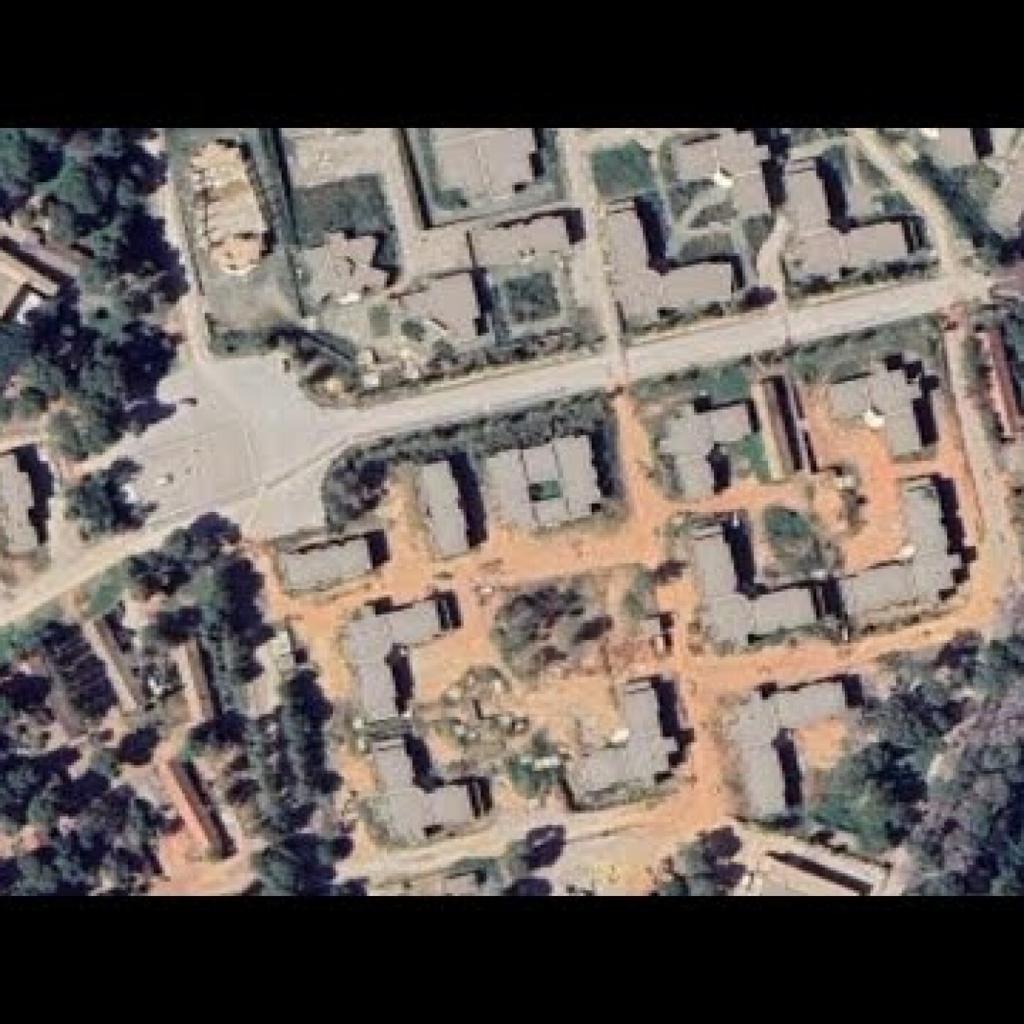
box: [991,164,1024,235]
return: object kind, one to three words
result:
house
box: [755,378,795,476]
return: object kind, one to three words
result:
building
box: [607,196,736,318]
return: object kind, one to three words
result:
house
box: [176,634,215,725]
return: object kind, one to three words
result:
building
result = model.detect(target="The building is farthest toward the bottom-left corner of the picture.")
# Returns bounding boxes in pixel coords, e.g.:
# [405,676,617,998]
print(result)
[158,757,224,859]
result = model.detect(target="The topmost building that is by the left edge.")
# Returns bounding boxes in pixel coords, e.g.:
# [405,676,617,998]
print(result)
[0,252,56,318]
